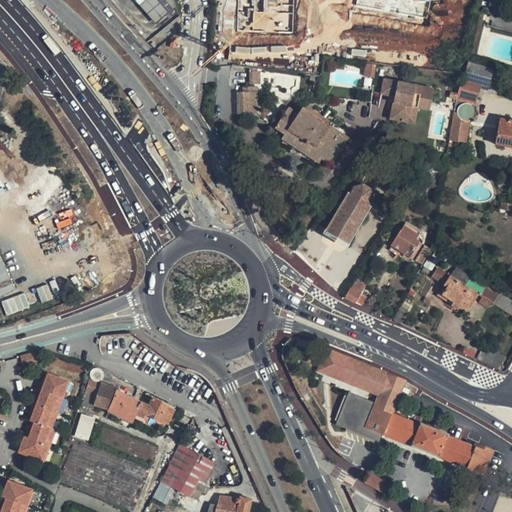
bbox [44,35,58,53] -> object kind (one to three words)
vehicle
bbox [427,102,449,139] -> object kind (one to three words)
swimming pool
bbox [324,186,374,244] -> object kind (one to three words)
building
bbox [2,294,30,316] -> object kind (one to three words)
shed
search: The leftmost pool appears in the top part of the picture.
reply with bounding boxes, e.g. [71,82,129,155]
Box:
[328,66,364,88]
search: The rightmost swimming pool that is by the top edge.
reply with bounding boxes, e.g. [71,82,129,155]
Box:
[478,24,512,64]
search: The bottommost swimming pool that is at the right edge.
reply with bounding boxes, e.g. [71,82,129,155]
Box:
[458,172,495,203]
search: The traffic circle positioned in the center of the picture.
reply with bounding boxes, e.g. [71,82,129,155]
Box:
[142,222,274,382]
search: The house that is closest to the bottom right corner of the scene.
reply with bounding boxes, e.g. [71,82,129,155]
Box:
[468,446,496,476]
